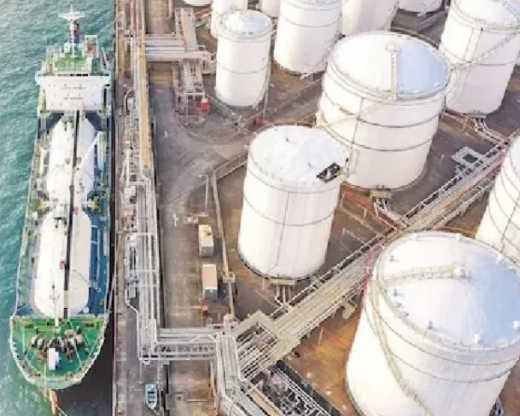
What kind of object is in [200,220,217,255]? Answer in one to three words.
building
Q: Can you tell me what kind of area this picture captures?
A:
industrial area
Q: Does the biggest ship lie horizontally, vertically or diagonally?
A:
vertically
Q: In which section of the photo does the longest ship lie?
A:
left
